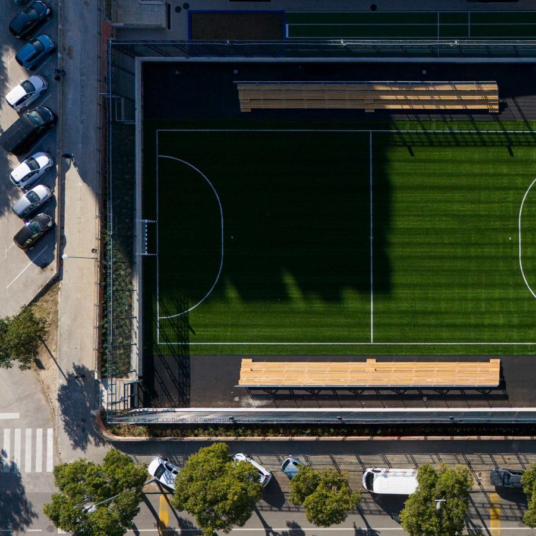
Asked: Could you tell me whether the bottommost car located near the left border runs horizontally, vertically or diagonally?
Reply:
diagonally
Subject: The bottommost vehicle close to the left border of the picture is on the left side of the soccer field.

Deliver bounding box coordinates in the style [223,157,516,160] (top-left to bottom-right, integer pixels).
[9,212,59,252]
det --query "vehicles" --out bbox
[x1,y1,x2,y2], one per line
[0,104,59,156]
[6,152,56,190]
[8,183,57,222]
[11,31,59,71]
[146,453,177,494]
[365,468,425,497]
[9,212,59,252]
[231,449,277,491]
[279,450,317,486]
[2,73,51,113]
[496,466,534,490]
